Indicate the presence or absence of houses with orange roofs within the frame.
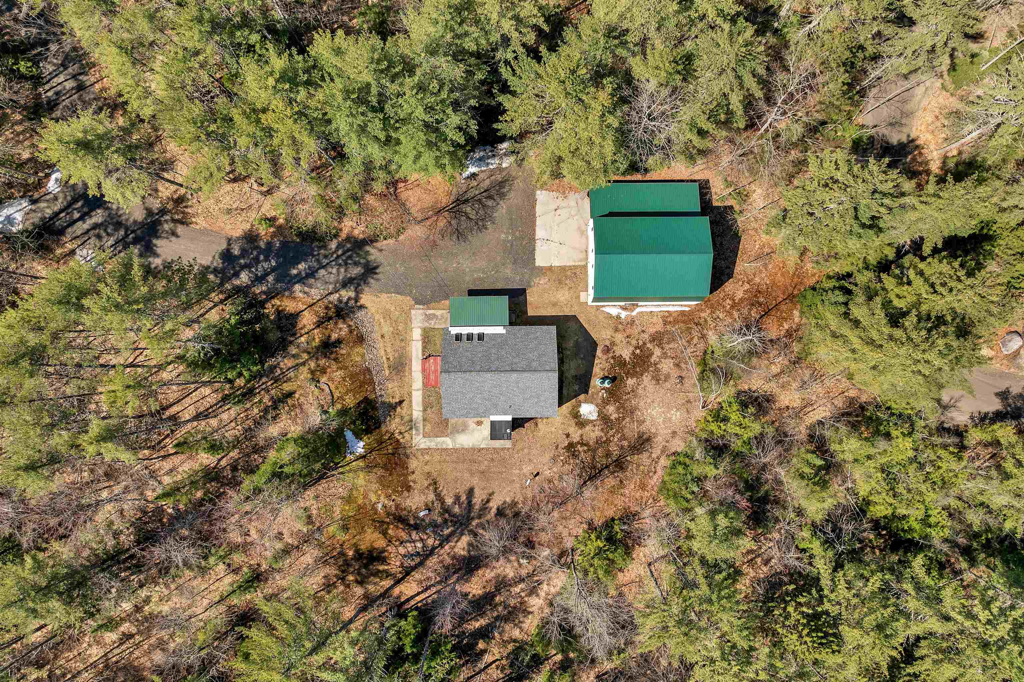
No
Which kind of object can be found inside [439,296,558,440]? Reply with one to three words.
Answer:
house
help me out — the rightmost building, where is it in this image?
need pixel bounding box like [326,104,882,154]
[587,182,715,305]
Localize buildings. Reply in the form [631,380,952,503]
[587,182,715,305]
[439,296,558,440]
